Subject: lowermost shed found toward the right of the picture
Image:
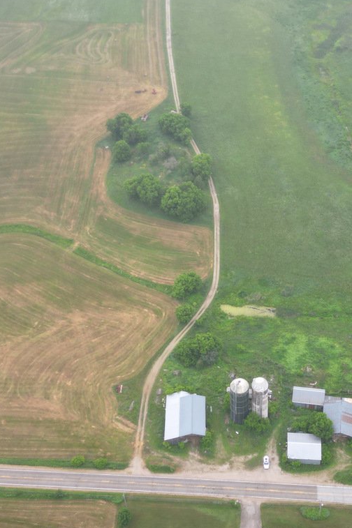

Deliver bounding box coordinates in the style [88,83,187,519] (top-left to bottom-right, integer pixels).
[287,434,321,465]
